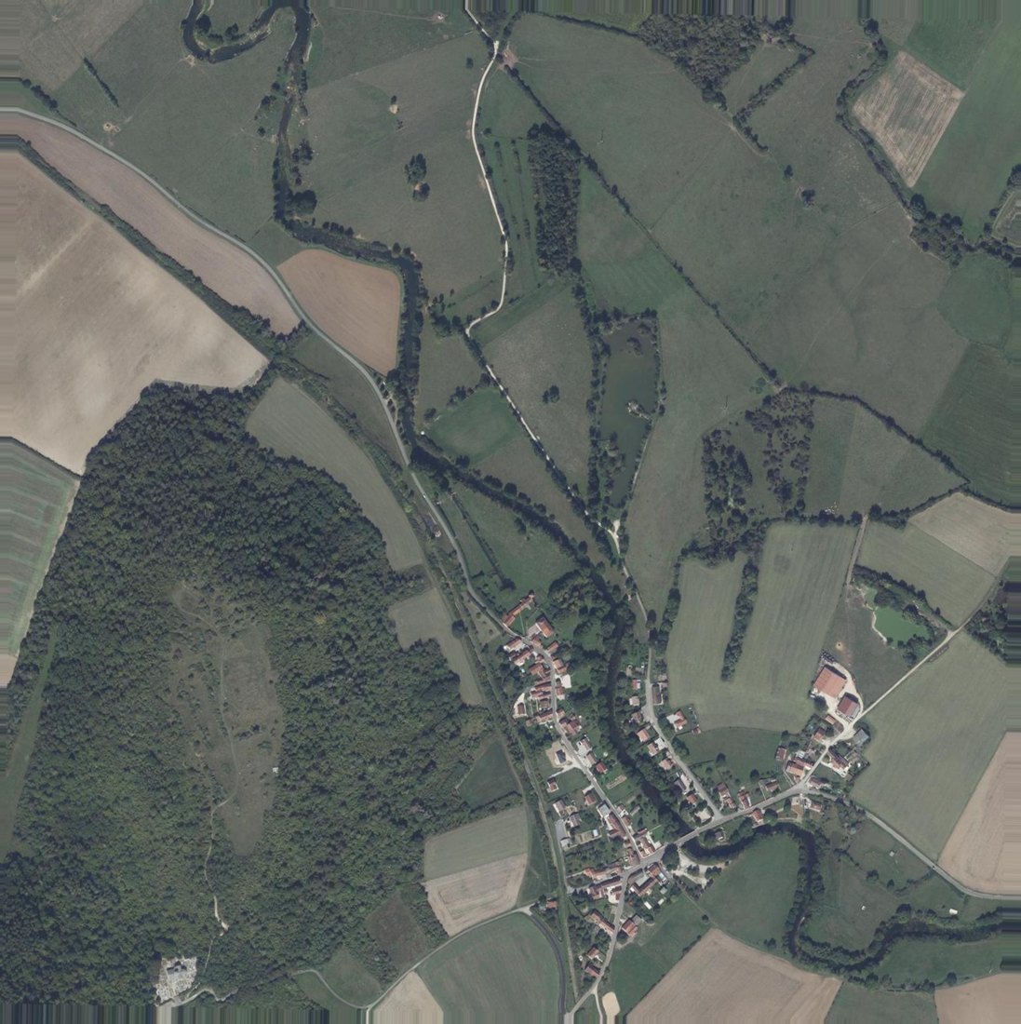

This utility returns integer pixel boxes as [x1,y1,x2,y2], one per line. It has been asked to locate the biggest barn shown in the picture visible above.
[814,667,849,700]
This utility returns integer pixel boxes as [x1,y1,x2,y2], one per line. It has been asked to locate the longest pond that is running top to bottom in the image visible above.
[600,319,657,506]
